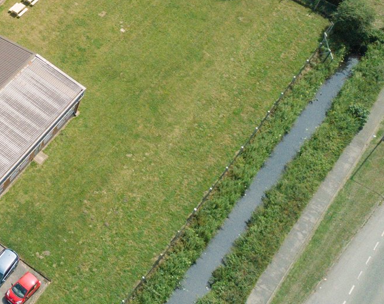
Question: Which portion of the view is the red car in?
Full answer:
You can find the red car in the bottom left area of the picture.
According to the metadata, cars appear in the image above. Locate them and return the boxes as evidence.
[6,269,43,304]
[0,248,21,291]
